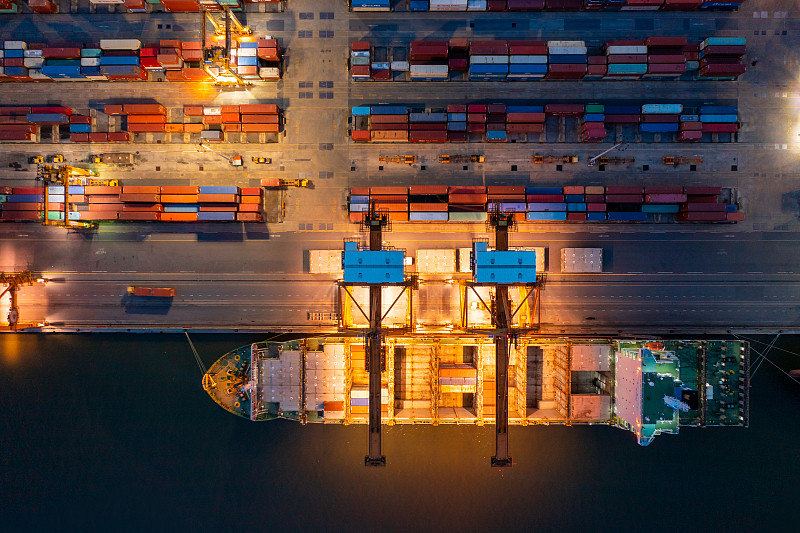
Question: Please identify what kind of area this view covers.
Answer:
port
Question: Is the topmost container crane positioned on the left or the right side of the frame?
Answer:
left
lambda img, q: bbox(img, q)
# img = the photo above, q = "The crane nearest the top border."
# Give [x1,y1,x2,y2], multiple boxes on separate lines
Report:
[195,3,252,84]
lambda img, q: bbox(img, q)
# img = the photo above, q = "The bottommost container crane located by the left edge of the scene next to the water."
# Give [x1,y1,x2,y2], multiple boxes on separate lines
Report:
[0,274,44,330]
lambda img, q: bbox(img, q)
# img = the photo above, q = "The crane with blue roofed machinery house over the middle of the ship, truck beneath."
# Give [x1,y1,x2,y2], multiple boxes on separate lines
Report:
[445,198,552,468]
